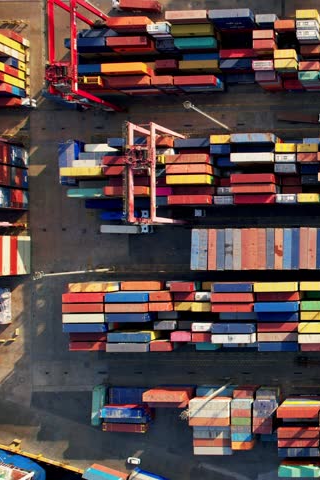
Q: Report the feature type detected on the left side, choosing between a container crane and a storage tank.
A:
container crane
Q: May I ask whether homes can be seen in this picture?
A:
No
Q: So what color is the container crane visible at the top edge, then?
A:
red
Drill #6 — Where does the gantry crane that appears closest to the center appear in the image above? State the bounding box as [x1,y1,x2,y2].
[121,115,195,226]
